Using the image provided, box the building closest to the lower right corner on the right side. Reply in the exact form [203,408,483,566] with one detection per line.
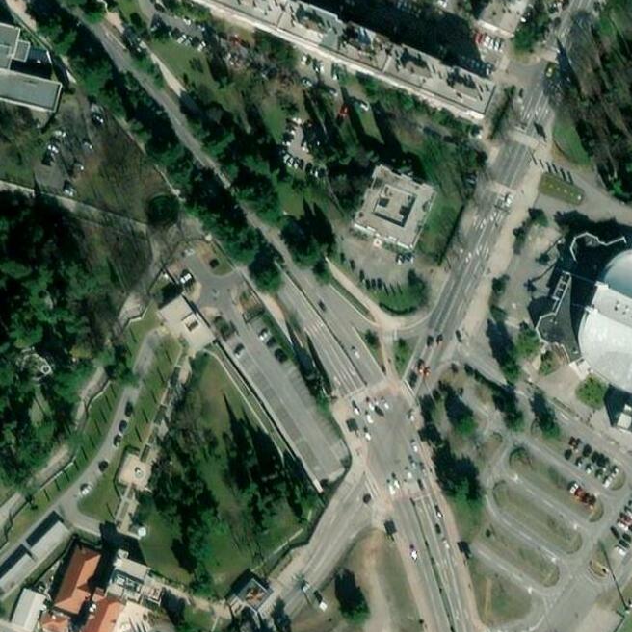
[535,272,589,365]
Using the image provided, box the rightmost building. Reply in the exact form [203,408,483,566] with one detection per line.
[570,232,626,279]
